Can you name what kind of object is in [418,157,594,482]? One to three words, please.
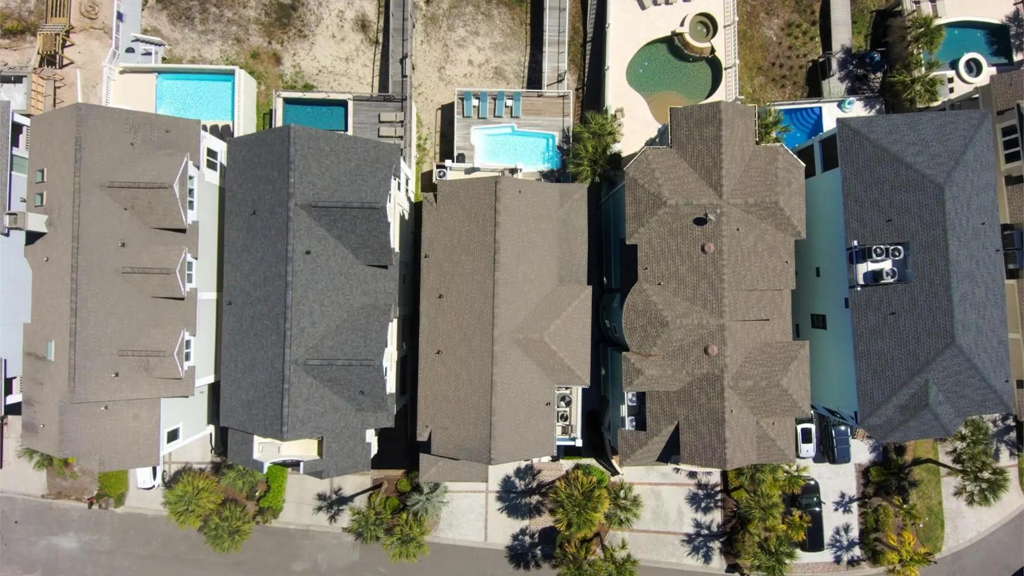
house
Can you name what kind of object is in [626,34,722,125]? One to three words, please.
swimming pool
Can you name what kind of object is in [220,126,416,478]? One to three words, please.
house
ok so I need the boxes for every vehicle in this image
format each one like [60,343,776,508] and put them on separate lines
[788,474,824,552]
[143,455,176,487]
[795,398,818,458]
[820,409,854,463]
